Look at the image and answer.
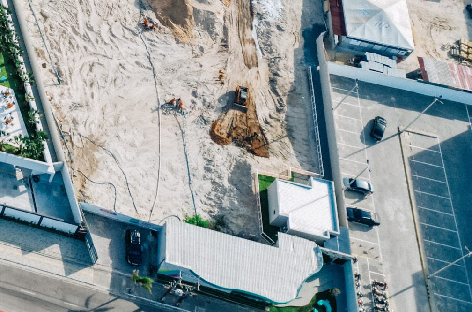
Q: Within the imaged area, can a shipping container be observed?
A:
No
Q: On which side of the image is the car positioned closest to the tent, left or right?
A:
right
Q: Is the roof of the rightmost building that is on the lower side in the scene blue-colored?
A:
No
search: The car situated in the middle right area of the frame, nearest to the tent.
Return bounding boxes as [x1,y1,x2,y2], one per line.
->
[369,111,391,141]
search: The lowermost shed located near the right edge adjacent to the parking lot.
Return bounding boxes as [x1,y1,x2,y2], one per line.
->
[409,57,472,101]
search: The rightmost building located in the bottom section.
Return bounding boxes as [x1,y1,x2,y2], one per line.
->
[255,177,340,247]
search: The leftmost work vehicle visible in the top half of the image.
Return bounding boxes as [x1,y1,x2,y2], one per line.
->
[233,84,252,113]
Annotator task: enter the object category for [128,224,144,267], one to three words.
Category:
vehicle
